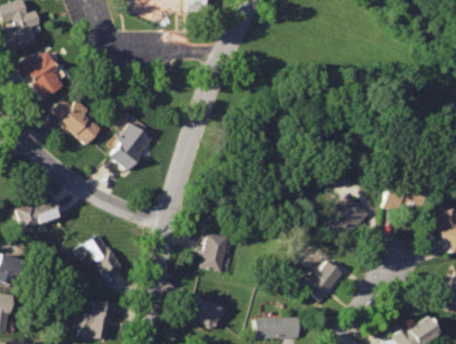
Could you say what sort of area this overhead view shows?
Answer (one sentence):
The picture captures a residential area.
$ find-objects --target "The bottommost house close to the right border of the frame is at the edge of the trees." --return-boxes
[390,315,444,344]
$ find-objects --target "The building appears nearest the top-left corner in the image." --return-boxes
[0,0,41,49]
